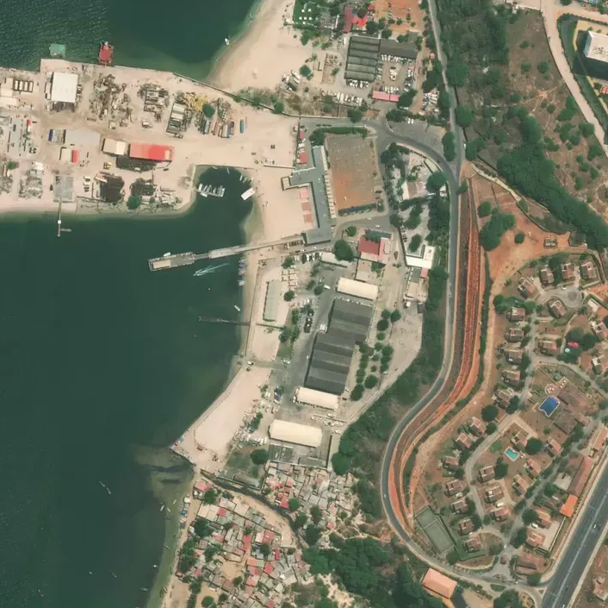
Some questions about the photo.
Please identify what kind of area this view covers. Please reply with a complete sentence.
It's a port.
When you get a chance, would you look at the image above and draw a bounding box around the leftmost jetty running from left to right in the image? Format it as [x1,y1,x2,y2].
[148,251,196,271]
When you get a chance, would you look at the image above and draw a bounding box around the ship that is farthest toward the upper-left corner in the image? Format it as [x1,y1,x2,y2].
[49,43,65,59]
